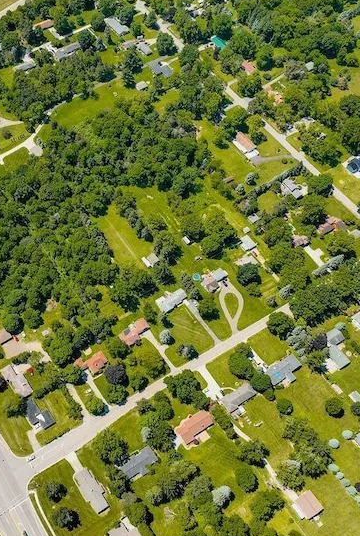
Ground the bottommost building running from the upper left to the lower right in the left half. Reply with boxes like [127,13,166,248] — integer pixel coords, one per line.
[75,467,110,514]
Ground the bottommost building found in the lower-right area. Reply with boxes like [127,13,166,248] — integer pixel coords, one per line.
[290,490,323,520]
